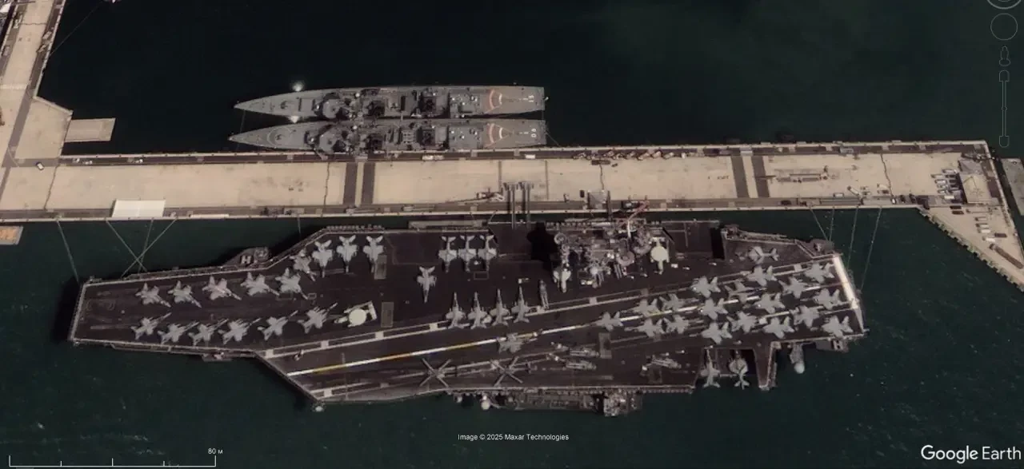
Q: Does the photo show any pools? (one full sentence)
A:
No, no pool is visible in the view.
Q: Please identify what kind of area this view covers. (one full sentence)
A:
The picture captures a port.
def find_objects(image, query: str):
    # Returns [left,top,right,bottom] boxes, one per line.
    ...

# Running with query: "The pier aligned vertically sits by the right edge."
[1002,158,1024,218]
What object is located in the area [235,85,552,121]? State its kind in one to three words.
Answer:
ship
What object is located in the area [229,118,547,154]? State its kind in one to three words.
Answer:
ship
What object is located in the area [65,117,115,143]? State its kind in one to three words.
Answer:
pier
